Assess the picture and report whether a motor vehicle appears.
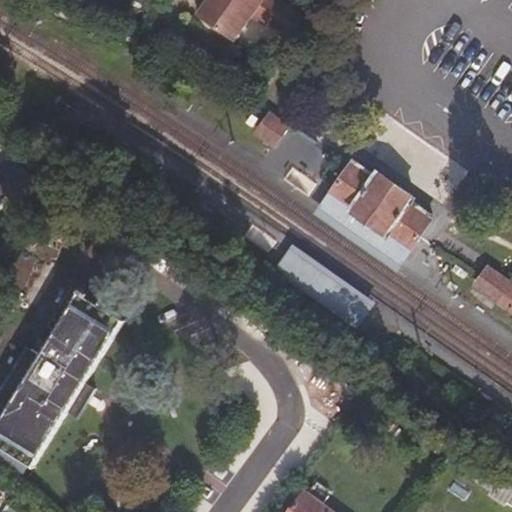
Yes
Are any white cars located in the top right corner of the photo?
Yes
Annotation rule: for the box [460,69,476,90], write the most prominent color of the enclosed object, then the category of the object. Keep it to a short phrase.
white car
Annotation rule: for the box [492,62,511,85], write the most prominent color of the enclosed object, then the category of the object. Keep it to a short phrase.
white car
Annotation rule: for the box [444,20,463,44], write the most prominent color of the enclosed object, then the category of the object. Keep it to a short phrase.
gray car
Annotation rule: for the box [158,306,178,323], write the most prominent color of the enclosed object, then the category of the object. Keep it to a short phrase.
white vehicle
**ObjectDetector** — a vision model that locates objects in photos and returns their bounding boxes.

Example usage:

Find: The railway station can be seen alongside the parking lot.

[314,160,432,270]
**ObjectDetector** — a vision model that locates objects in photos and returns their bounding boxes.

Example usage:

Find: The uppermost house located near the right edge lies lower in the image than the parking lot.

[472,264,512,318]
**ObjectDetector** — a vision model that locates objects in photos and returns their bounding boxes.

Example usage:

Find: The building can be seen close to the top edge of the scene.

[194,0,276,44]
